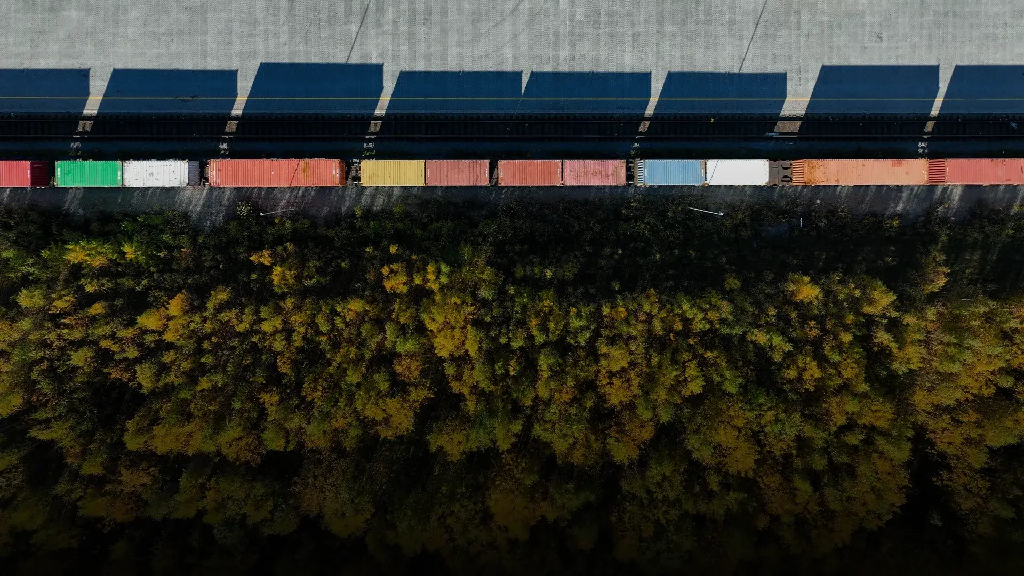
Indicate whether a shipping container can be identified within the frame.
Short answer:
Yes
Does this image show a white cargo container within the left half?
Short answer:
Yes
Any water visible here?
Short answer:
No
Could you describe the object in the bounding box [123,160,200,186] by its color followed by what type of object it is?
white shipping container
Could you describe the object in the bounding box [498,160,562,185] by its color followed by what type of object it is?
red shipping container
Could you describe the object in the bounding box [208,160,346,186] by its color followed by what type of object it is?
red shipping container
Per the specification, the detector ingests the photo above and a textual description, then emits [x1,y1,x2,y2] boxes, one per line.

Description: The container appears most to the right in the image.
[928,159,1024,184]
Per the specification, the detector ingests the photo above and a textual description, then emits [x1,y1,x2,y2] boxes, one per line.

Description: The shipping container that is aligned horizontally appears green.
[56,160,123,186]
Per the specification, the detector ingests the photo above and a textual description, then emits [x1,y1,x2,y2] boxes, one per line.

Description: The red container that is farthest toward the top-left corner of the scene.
[0,160,49,187]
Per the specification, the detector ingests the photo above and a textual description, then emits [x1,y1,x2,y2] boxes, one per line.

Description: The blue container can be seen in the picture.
[638,160,706,185]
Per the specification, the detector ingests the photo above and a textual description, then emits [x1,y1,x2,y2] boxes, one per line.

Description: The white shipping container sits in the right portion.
[706,160,768,185]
